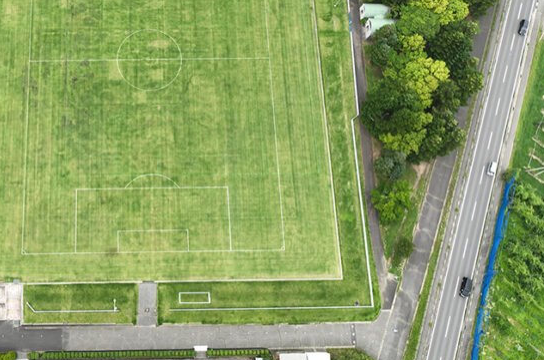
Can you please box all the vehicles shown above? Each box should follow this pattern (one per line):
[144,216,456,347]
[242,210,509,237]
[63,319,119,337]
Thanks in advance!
[486,161,497,175]
[458,278,472,298]
[517,19,528,35]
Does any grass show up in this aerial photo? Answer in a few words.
Yes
